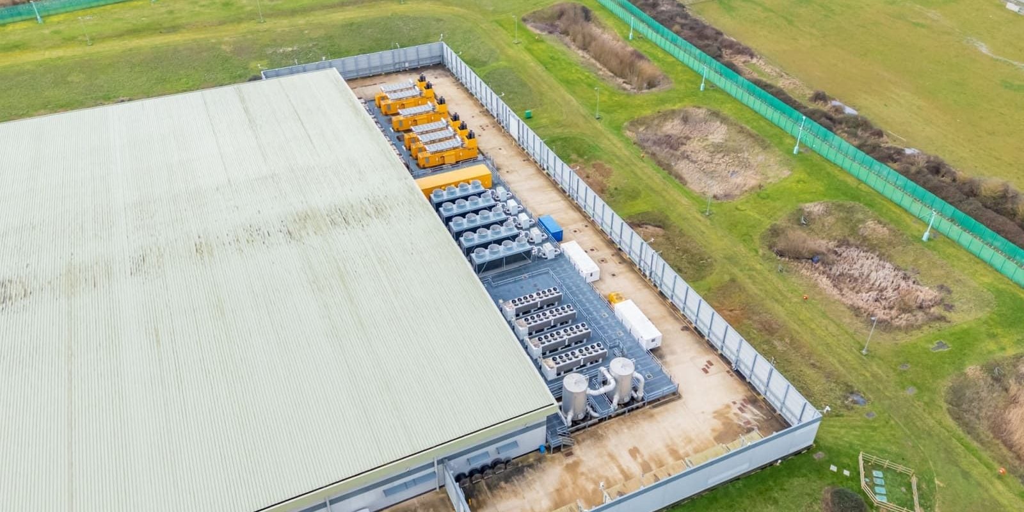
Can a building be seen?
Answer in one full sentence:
Yes, the photo shows a building.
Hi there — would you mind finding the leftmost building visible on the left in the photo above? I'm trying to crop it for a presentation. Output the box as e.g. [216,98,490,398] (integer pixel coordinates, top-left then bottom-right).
[0,66,562,512]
